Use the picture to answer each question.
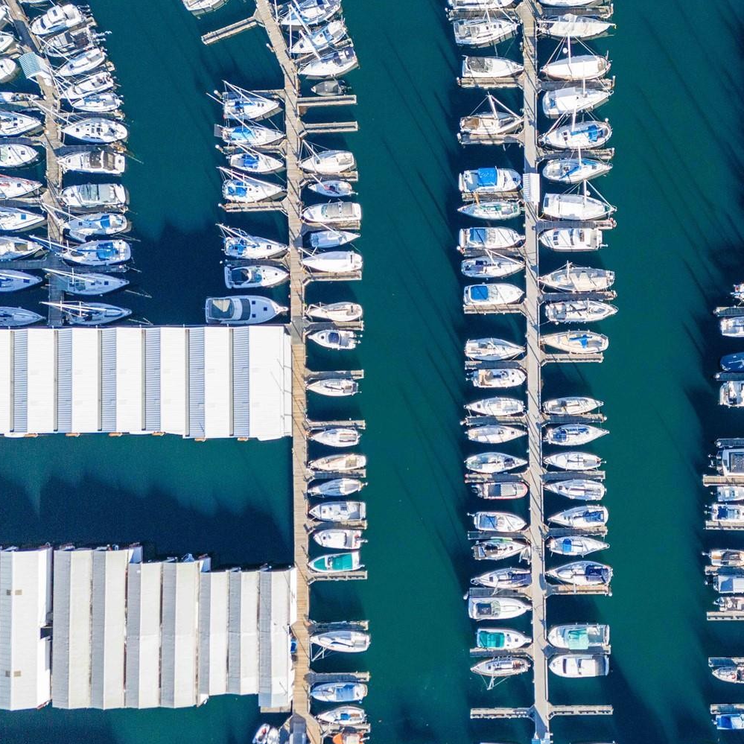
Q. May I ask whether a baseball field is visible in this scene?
No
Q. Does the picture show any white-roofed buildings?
Yes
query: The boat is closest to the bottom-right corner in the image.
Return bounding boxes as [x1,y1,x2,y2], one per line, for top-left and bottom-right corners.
[710,711,744,731]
